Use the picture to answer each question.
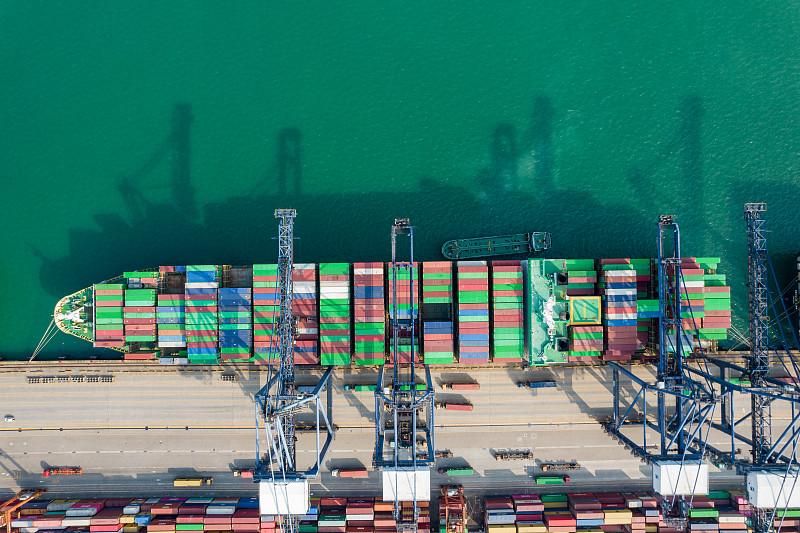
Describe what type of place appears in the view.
port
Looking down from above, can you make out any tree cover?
No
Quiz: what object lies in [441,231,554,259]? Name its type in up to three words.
ship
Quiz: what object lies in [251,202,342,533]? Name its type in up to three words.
container crane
